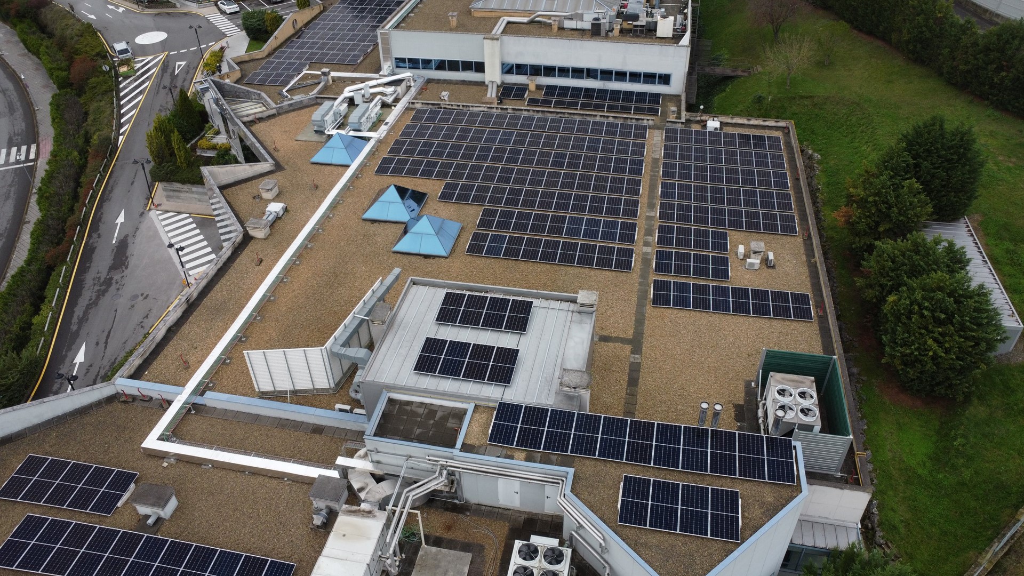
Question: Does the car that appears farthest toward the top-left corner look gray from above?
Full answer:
Yes, the car that appears farthest toward the top-left corner is gray.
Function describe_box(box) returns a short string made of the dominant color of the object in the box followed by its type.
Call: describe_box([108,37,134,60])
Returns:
gray car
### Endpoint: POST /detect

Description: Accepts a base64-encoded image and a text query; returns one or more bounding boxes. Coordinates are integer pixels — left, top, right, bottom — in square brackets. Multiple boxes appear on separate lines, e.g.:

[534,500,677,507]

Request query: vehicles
[108,37,134,60]
[214,0,239,14]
